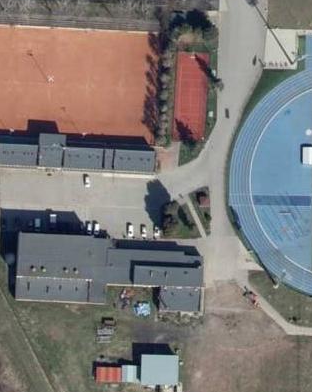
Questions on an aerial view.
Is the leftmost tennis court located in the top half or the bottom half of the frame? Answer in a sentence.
The leftmost tennis court is in the top half of the image.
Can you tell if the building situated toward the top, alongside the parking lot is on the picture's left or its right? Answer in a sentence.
The building situated toward the top, alongside the parking lot is on the left side of the image.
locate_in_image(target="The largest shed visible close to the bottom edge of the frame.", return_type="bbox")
[138,354,178,386]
